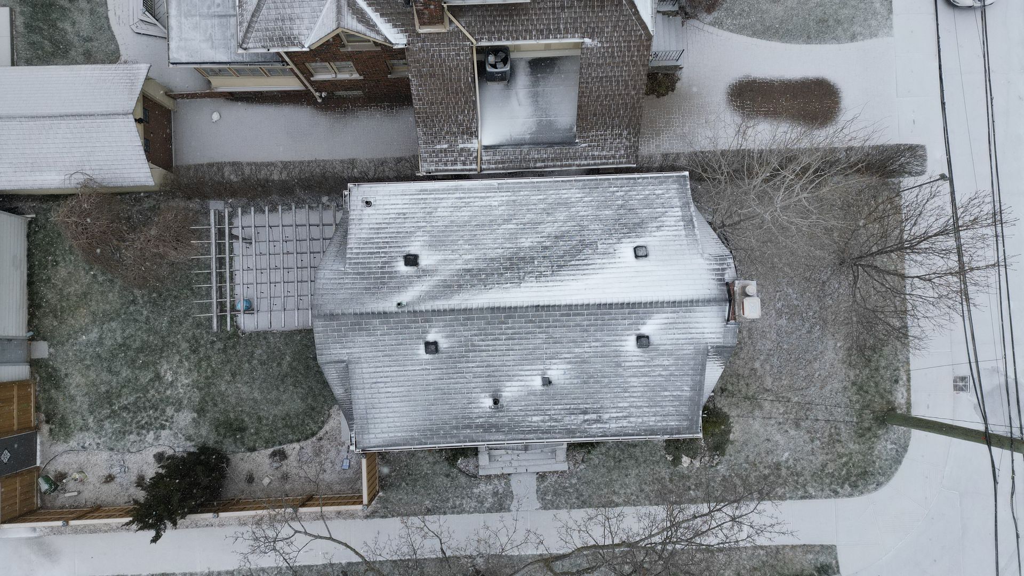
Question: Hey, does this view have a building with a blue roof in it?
No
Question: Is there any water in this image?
No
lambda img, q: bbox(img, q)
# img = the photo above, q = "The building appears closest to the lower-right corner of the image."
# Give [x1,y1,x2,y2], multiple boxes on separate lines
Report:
[312,168,766,456]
